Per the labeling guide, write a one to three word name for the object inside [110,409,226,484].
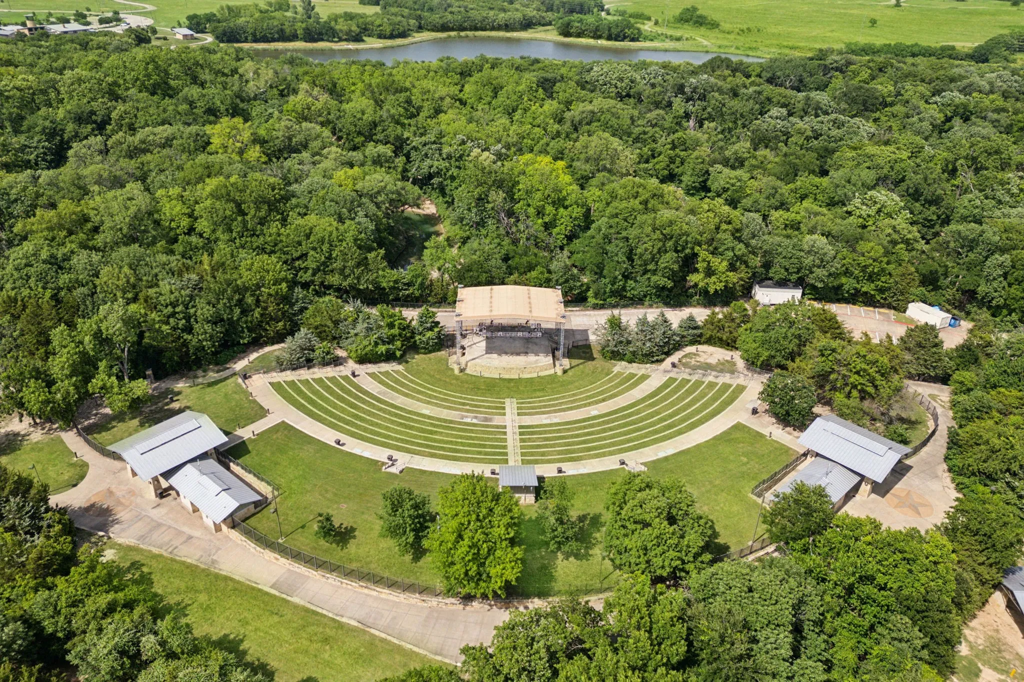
building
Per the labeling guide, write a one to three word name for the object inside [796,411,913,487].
building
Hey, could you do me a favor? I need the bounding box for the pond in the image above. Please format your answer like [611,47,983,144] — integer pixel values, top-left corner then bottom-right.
[173,36,771,83]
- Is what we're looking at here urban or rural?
rural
